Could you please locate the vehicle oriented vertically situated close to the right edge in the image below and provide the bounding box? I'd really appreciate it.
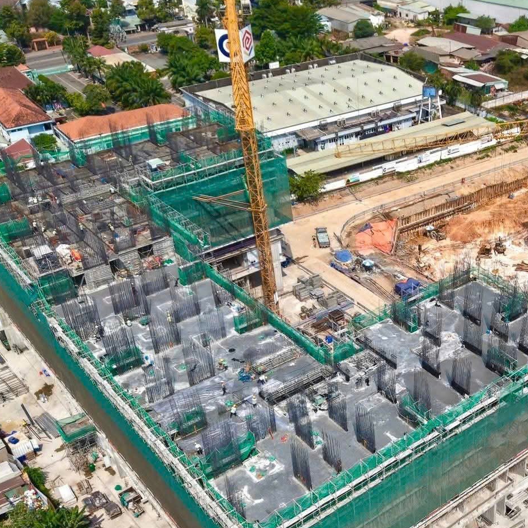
[493,223,508,256]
